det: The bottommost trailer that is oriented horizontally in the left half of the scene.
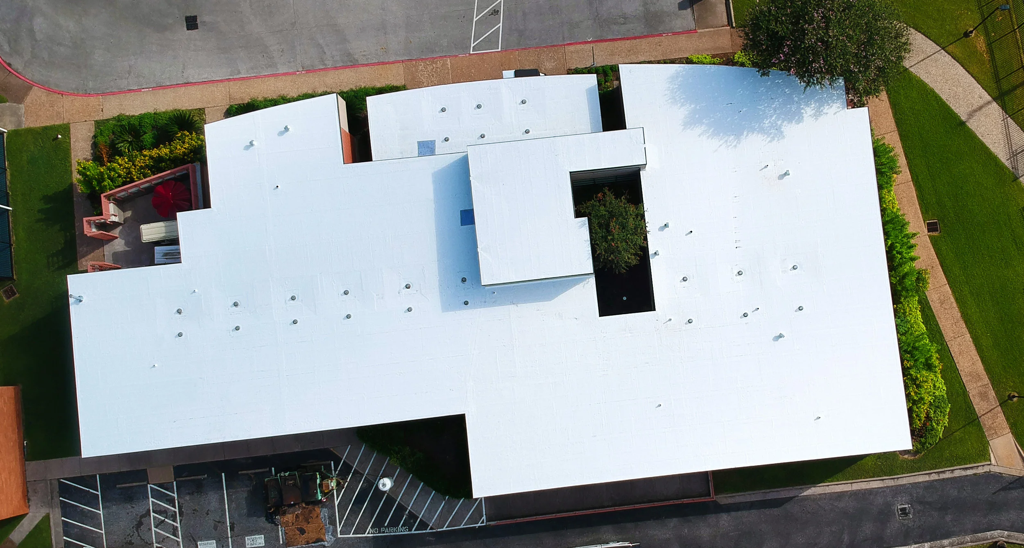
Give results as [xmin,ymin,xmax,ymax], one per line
[264,468,351,507]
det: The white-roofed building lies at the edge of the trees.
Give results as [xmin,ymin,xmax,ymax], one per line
[67,63,913,499]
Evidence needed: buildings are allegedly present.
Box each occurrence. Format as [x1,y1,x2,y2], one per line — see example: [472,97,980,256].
[67,63,913,499]
[0,386,31,518]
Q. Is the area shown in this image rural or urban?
urban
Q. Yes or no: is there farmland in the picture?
No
